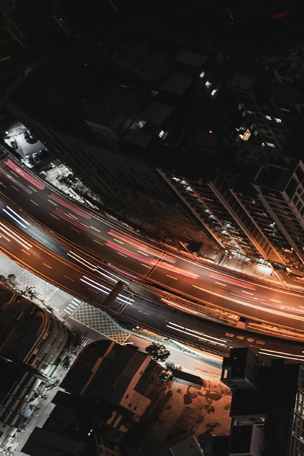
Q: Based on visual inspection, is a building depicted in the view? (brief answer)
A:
Yes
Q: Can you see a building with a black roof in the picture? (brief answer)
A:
Yes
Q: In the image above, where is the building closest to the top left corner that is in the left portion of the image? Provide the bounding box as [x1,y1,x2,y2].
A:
[2,40,225,218]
